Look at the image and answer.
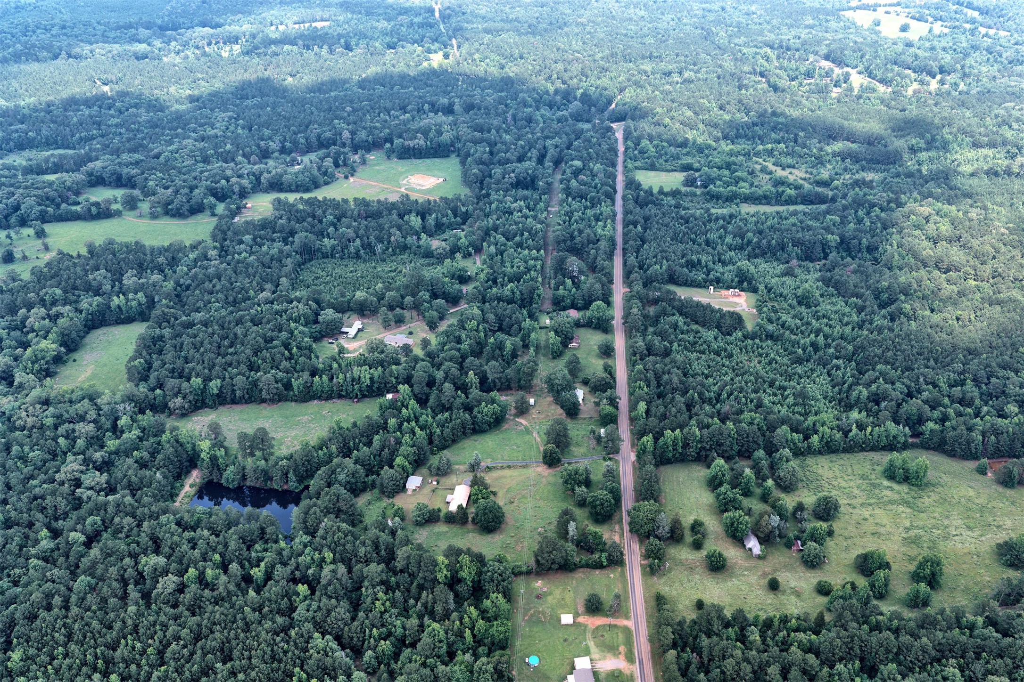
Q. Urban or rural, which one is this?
rural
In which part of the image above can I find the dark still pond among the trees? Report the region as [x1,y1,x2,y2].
[186,481,314,551]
